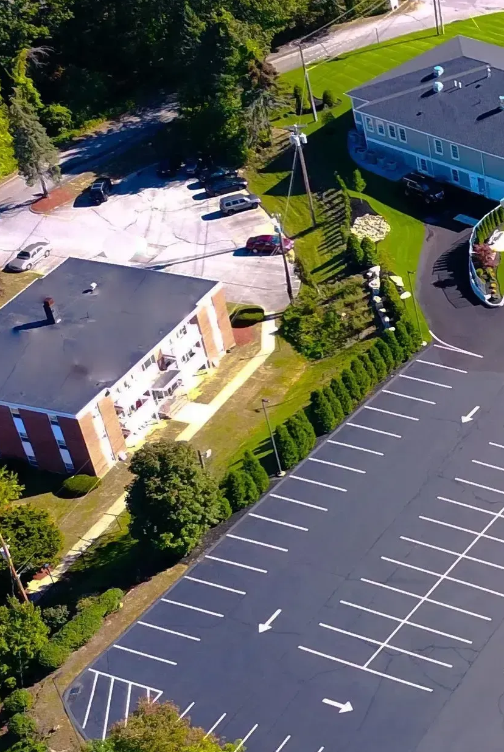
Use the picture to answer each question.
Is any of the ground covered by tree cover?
Yes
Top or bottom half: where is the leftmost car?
top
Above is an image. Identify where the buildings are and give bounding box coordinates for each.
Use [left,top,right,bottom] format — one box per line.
[0,258,235,477]
[346,34,504,199]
